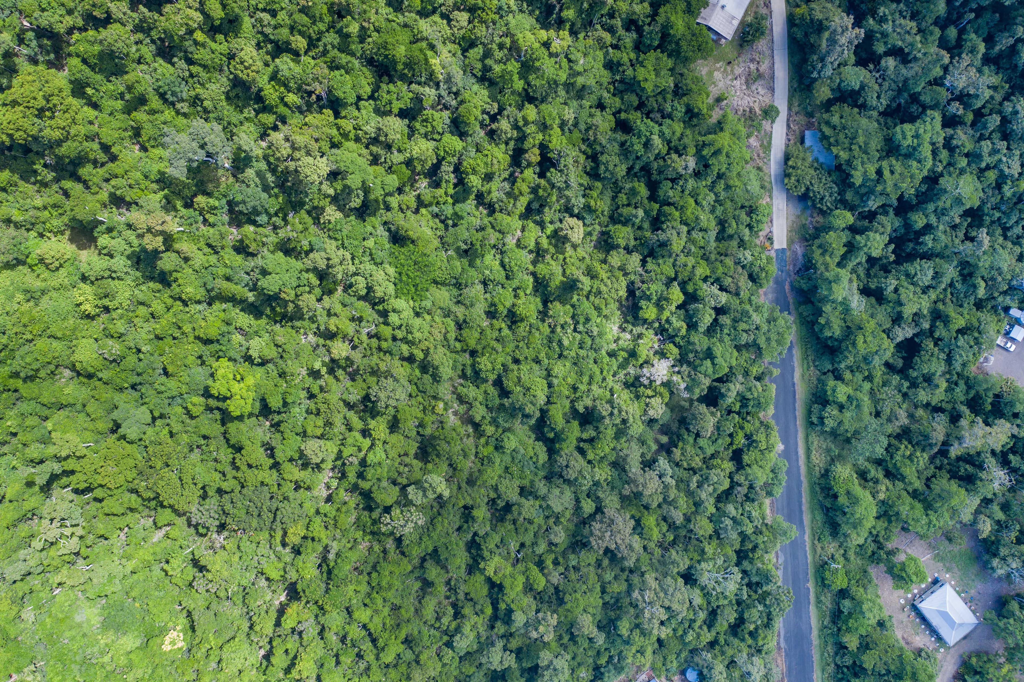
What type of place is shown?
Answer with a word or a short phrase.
forest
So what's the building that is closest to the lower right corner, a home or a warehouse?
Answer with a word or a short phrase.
home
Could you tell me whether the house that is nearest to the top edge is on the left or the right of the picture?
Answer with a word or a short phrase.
right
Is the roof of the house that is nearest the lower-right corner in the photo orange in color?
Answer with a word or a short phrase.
No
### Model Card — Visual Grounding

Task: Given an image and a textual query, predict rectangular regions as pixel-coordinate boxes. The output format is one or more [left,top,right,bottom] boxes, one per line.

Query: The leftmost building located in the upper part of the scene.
[700,0,751,45]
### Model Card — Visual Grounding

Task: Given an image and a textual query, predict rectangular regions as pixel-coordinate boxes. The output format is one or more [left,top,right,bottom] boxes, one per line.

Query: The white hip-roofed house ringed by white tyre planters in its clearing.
[909,579,979,647]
